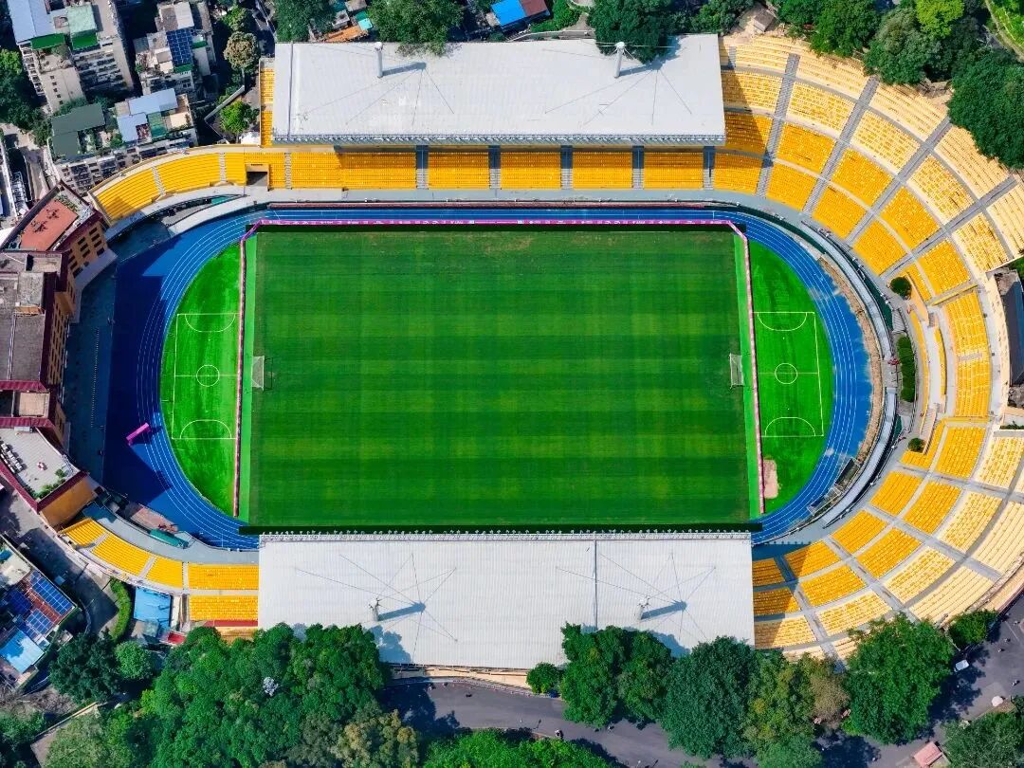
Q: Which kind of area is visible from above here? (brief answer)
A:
sports ground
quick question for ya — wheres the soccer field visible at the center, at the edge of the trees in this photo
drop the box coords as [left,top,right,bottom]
[238,224,762,534]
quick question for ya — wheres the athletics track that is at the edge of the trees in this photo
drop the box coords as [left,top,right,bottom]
[102,207,873,550]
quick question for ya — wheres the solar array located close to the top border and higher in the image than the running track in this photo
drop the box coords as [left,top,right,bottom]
[166,28,194,67]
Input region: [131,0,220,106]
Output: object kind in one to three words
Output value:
building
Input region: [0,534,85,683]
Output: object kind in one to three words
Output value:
house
